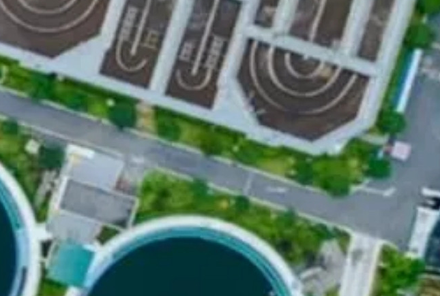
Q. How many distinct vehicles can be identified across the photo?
0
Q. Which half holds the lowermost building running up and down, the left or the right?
right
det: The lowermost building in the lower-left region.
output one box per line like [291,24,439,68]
[45,207,101,245]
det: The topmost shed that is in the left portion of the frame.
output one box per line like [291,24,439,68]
[63,145,124,191]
